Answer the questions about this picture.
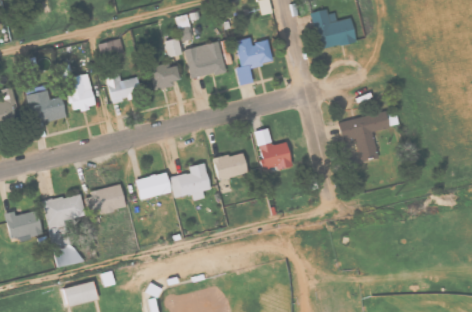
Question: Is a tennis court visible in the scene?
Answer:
No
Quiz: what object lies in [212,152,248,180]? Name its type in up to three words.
house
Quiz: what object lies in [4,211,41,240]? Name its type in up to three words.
house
